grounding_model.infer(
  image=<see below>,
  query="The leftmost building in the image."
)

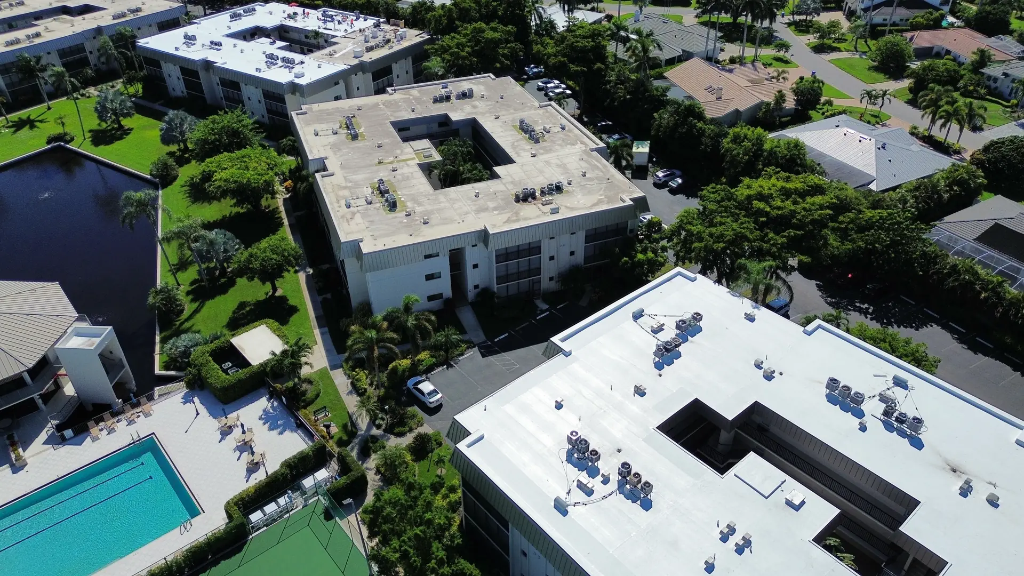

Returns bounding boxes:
[0,280,91,431]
